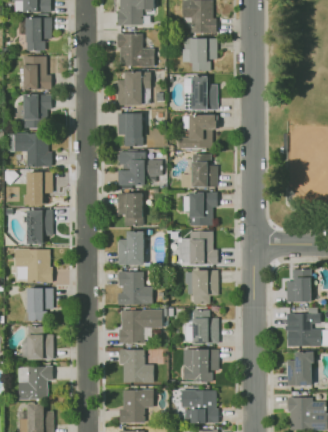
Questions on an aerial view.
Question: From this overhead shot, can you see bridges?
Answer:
No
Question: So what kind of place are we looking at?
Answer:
residential area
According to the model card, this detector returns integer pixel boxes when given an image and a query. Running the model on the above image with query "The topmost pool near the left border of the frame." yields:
[11,218,26,243]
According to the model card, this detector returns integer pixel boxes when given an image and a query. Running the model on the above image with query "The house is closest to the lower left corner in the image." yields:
[20,404,54,432]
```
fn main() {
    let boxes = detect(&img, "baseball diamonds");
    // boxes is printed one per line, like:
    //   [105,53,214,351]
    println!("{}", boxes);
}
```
[288,123,328,200]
